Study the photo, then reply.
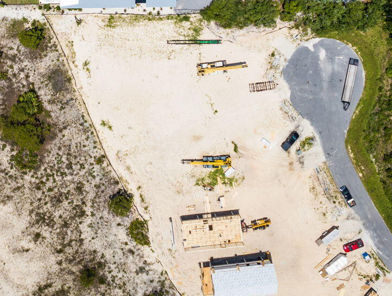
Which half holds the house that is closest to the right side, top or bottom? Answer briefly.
bottom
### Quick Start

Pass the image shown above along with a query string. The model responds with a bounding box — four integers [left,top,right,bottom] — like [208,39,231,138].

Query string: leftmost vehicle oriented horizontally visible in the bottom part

[241,219,268,232]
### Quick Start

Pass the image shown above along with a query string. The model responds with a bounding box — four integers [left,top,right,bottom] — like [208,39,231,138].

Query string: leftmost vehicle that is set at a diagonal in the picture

[280,131,300,151]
